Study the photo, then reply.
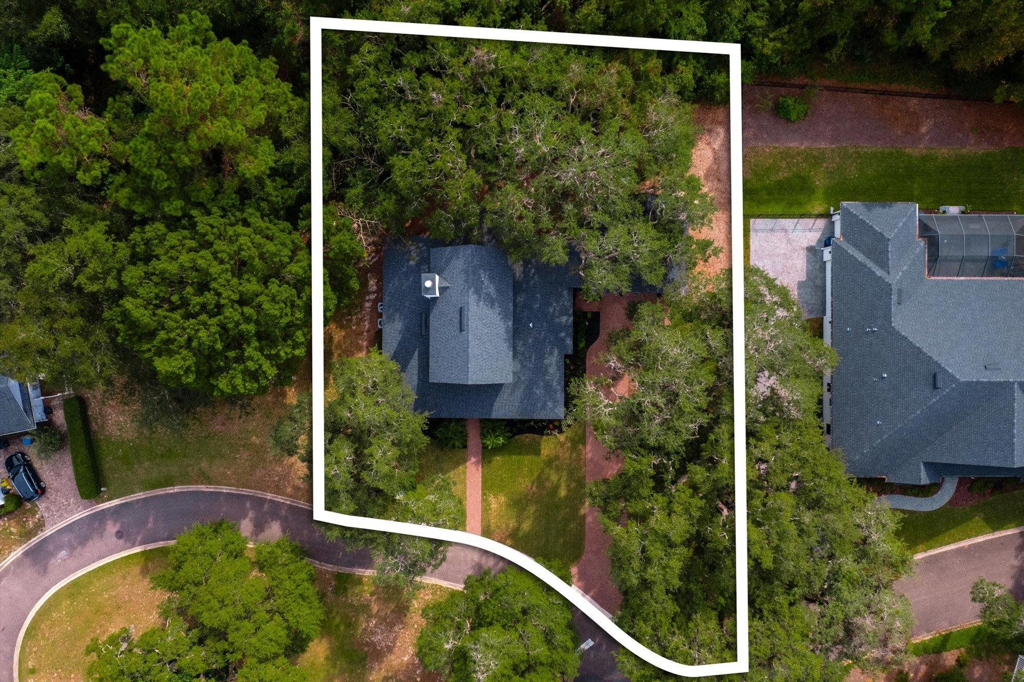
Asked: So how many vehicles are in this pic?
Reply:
1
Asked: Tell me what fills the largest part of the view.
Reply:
trees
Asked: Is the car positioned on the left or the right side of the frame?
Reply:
left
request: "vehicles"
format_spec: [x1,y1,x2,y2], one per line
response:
[8,450,46,504]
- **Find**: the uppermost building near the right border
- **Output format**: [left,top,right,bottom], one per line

[815,200,1024,484]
